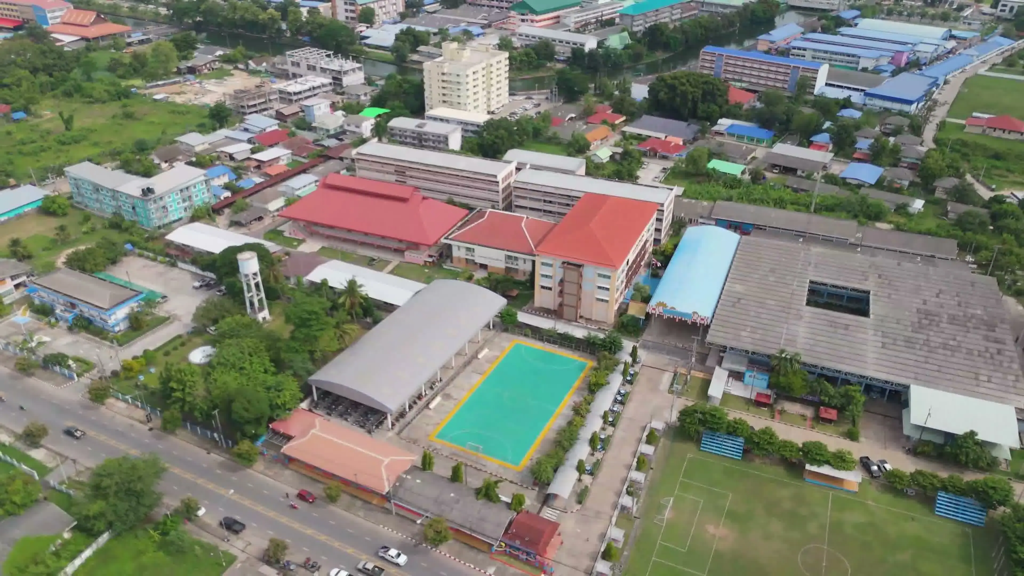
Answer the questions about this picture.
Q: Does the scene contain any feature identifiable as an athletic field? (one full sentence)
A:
Yes, an athletic field is visible in the scene.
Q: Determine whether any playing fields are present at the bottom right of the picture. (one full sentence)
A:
Yes, a playing field is visible at the bottom right of the picture.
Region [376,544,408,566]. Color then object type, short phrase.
white truck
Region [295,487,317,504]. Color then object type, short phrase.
red car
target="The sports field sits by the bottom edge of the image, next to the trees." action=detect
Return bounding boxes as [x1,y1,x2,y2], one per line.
[615,427,1024,576]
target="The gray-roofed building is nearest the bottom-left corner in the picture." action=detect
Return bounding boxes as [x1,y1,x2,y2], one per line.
[0,491,78,568]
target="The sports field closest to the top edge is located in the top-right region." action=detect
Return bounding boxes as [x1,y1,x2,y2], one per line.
[948,74,1024,119]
